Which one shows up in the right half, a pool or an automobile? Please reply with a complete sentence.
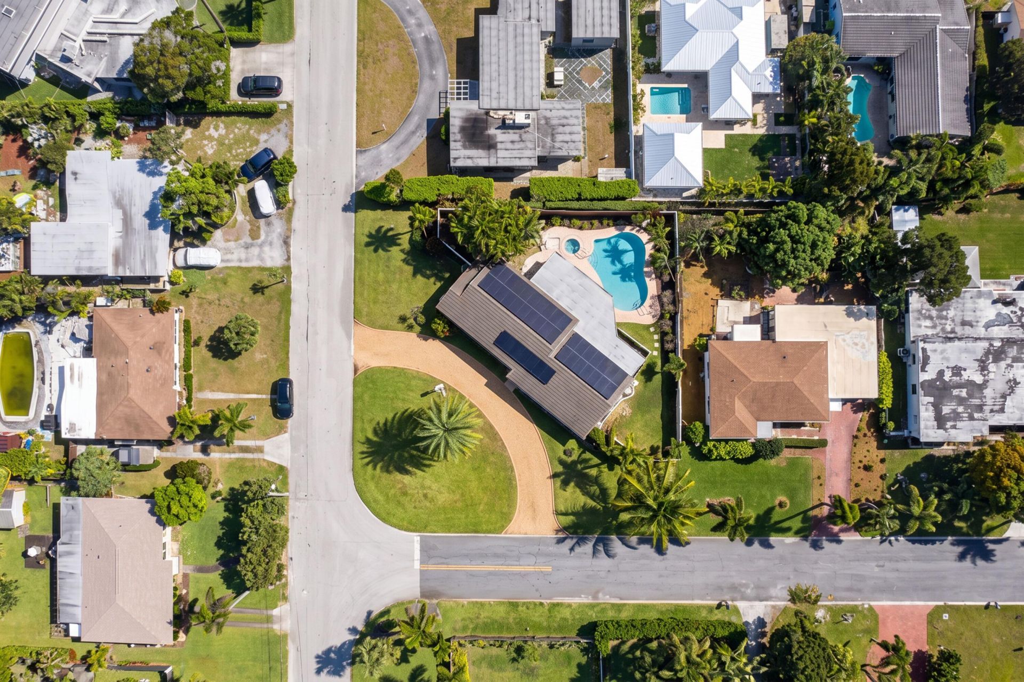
You can see a pool in the right half.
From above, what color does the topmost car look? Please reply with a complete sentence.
The color of the topmost car is black.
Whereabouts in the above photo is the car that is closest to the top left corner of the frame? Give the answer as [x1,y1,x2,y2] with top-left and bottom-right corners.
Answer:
[239,74,282,97]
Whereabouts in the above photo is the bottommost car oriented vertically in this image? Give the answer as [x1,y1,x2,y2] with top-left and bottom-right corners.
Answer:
[273,377,295,420]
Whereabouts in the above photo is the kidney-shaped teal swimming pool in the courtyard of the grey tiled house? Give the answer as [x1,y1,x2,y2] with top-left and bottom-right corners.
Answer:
[845,73,875,143]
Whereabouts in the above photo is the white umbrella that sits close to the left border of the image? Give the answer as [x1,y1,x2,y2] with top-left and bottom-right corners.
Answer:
[26,543,48,559]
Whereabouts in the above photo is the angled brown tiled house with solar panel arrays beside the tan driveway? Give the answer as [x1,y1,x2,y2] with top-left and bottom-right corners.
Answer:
[436,252,645,439]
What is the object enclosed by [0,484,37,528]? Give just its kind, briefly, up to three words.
shed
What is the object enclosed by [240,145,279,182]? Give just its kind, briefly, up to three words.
car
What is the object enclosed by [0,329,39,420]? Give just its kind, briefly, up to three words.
swimming pool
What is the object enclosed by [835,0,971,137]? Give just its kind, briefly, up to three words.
house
